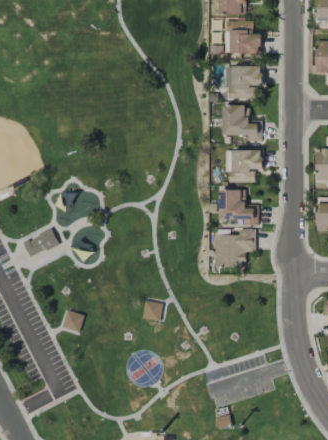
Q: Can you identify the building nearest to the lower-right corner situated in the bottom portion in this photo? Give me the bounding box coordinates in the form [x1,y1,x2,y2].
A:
[216,407,234,428]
